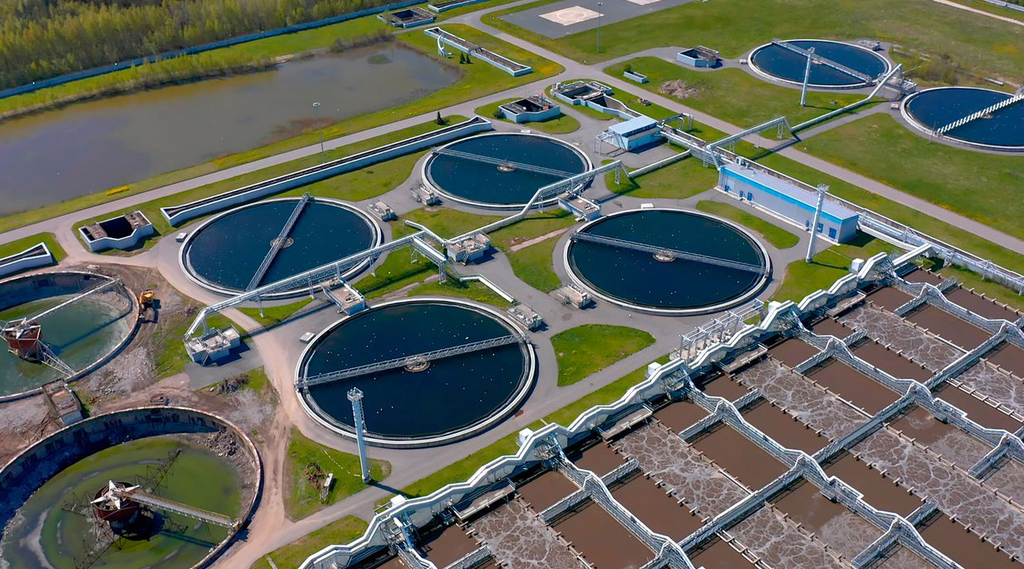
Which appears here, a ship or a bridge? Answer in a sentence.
Of the two, only a bridge appears.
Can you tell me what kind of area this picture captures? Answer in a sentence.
This image shows an industrial area.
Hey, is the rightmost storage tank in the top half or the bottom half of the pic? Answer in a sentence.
It is in the top half that the rightmost storage tank appears.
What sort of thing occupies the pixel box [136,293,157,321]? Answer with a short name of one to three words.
work vehicle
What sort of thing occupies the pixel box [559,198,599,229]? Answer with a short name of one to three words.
building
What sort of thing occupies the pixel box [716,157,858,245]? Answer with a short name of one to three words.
building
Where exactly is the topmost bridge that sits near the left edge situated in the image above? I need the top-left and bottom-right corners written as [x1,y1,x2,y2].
[15,275,126,326]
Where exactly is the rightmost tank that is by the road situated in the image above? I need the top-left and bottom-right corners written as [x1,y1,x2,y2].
[900,86,1024,152]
